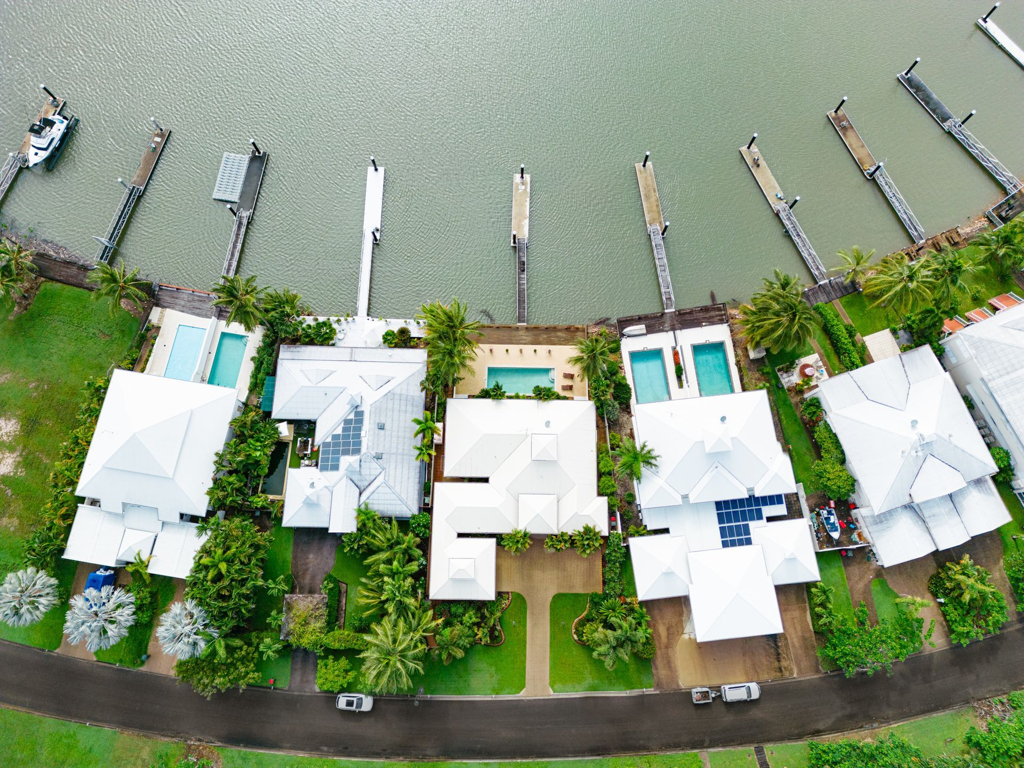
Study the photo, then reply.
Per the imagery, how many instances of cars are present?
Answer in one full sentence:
There are 2 cars in the image.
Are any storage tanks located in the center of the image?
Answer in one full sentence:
No, there is no storage tank in the center of the image.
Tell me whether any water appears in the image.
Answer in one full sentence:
Yes, water can be seen from above here.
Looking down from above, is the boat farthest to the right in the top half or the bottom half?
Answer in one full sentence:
Seen from above, the boat farthest to the right lies in the bottom half of the view.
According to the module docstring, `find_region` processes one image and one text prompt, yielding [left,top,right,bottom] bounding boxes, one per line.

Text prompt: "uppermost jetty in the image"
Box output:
[976,16,1024,73]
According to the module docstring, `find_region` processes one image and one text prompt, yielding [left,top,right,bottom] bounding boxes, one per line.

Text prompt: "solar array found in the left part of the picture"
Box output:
[319,410,363,471]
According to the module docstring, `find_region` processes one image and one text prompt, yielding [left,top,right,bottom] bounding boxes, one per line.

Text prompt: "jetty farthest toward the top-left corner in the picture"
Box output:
[18,96,67,155]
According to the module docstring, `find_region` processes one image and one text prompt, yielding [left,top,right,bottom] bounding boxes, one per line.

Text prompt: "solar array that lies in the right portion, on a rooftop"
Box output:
[716,494,784,548]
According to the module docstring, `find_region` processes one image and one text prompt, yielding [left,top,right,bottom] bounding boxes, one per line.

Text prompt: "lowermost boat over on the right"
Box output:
[819,508,840,538]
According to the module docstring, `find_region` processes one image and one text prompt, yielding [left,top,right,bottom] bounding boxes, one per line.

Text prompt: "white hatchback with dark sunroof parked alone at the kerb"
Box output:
[336,692,374,713]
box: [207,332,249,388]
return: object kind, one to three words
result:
swimming pool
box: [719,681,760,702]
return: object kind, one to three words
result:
car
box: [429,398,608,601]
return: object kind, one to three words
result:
house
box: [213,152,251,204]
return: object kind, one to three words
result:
pier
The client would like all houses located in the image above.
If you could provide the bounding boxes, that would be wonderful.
[812,344,1012,567]
[628,390,820,643]
[429,398,608,601]
[62,369,242,579]
[940,296,1024,500]
[272,345,428,533]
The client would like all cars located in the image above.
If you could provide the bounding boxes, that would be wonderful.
[719,681,760,702]
[336,692,374,713]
